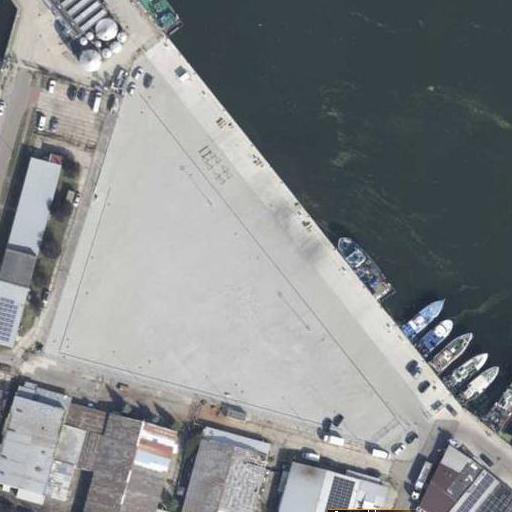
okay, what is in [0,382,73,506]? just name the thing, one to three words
building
